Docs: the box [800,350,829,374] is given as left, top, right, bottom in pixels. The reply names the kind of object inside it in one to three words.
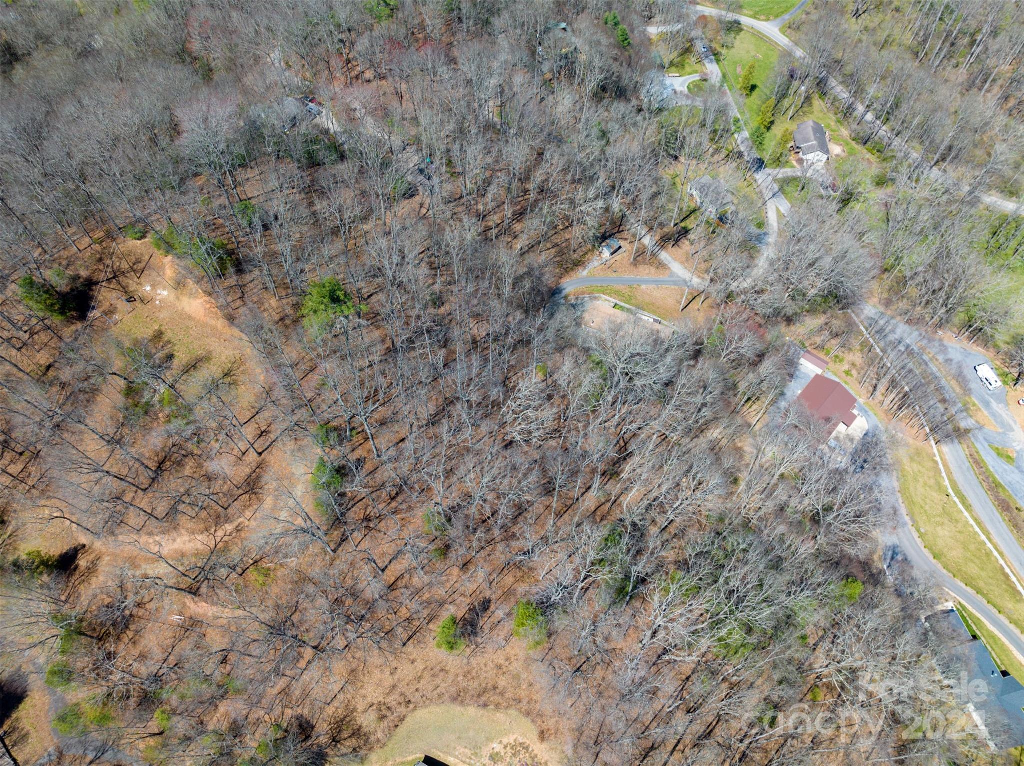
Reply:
building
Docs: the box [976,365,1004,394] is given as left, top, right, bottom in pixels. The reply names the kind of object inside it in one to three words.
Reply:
vehicle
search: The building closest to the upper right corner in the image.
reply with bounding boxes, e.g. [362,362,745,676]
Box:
[785,118,830,166]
